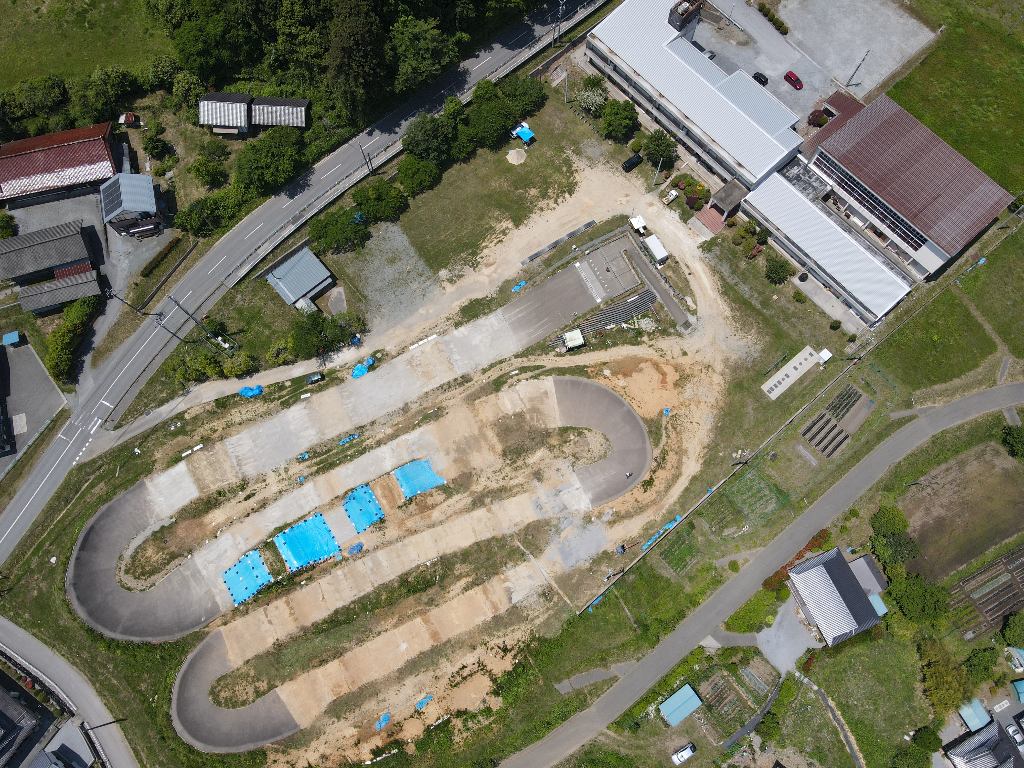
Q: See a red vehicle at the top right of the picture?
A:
Yes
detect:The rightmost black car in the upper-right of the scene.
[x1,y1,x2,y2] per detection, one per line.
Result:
[752,71,769,86]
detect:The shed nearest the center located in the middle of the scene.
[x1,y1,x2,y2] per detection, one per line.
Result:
[563,329,584,350]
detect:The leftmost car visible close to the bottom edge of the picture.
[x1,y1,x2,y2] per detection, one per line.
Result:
[670,741,699,768]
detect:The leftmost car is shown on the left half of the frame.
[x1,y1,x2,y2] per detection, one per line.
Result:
[304,371,323,385]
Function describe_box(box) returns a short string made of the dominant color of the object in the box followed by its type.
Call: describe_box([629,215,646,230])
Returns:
white gazebo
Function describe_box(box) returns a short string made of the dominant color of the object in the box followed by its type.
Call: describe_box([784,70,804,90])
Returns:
red car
